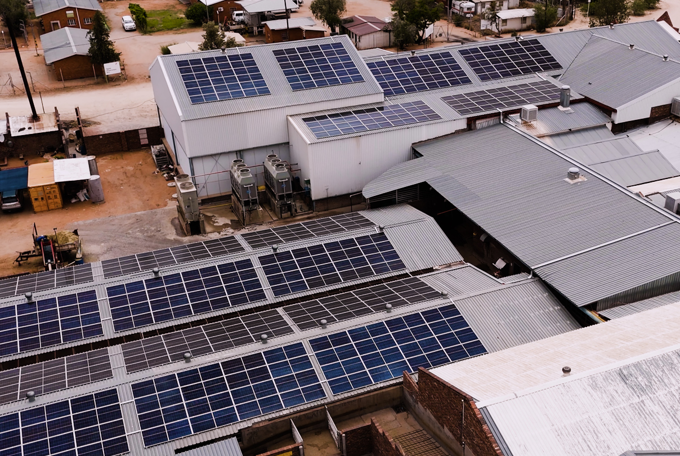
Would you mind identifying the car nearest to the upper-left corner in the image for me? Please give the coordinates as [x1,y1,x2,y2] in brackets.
[118,19,133,32]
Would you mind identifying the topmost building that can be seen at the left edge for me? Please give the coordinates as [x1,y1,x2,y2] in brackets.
[34,0,98,33]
